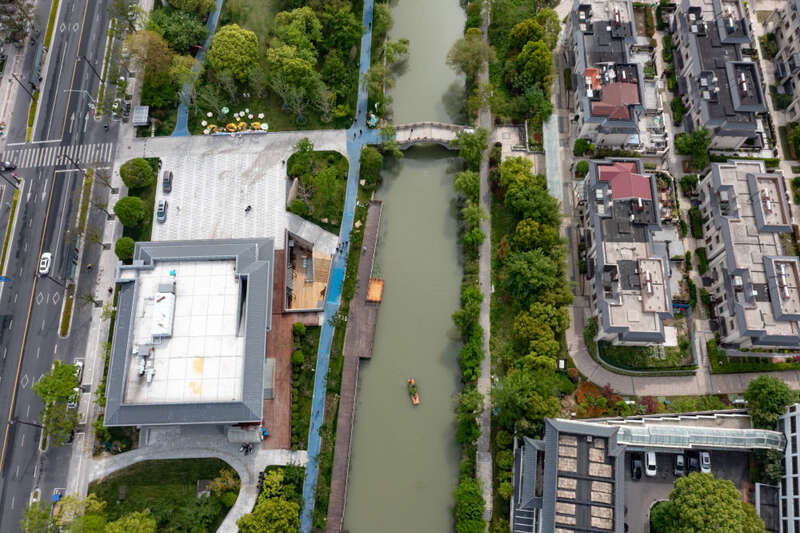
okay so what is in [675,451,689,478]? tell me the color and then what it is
gray car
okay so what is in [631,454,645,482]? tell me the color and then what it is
black vehicle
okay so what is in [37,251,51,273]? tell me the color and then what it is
white car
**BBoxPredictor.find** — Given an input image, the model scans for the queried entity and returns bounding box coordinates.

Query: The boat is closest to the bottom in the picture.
[409,375,422,406]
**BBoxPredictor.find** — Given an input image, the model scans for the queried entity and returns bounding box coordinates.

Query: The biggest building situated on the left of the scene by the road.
[103,238,274,427]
